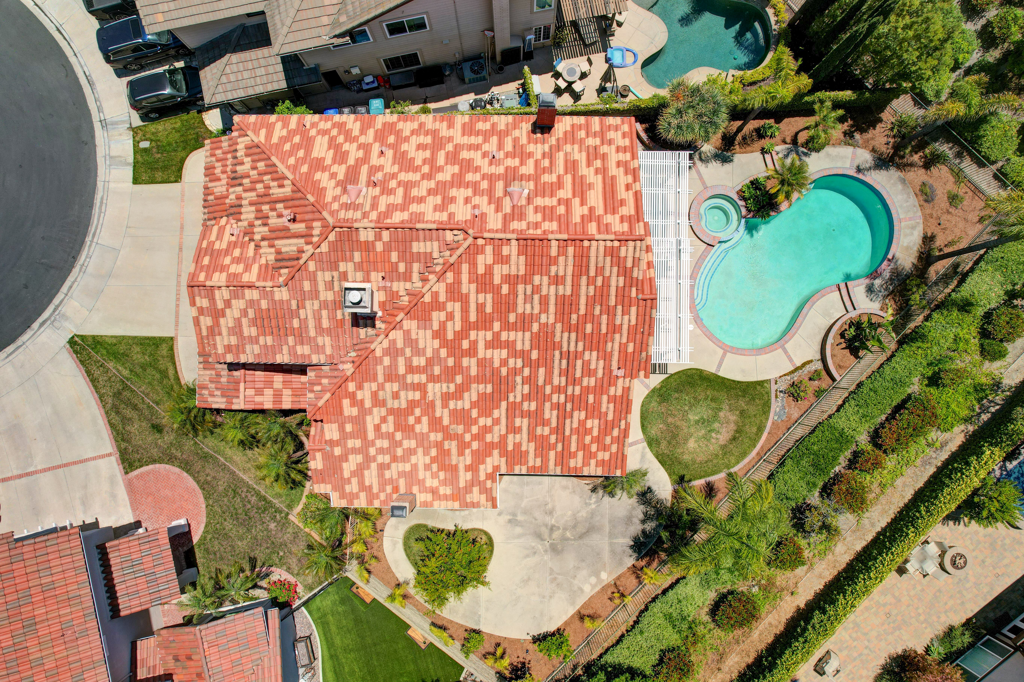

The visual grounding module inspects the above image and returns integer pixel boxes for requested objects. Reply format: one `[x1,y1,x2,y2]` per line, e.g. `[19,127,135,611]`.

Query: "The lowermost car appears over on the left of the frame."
[123,63,204,119]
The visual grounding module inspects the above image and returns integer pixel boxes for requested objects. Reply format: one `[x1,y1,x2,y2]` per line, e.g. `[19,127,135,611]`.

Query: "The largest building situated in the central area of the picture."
[186,93,658,519]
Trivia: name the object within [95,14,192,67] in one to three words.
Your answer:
car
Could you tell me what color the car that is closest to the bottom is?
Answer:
black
